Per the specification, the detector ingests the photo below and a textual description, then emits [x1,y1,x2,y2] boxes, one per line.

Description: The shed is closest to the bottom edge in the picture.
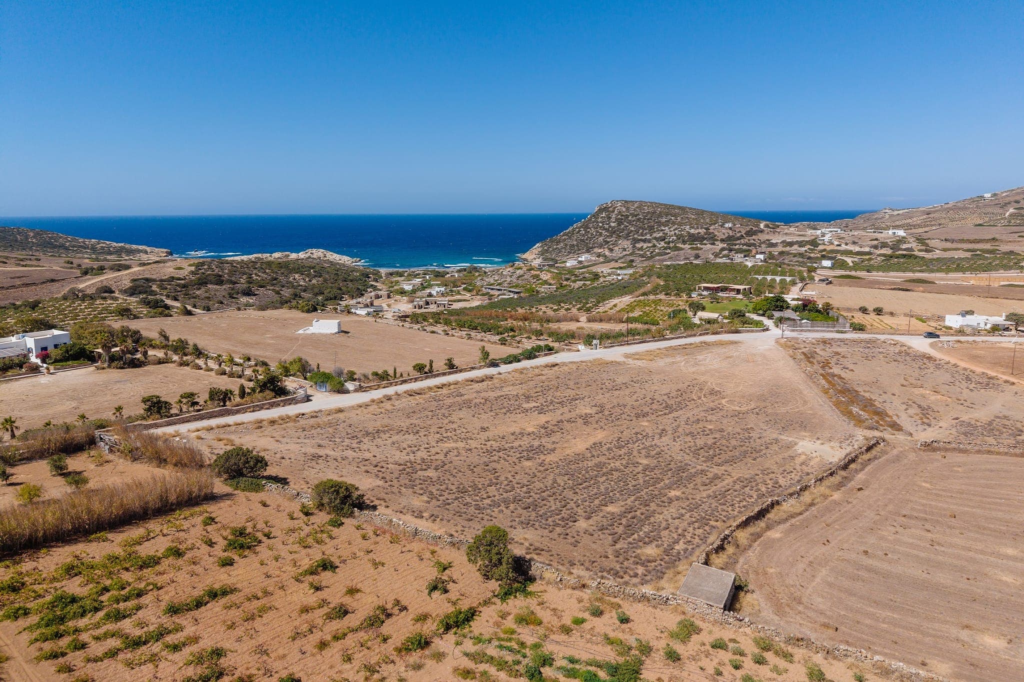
[677,563,736,627]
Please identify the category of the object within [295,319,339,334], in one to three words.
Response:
building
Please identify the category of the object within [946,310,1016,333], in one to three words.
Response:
house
